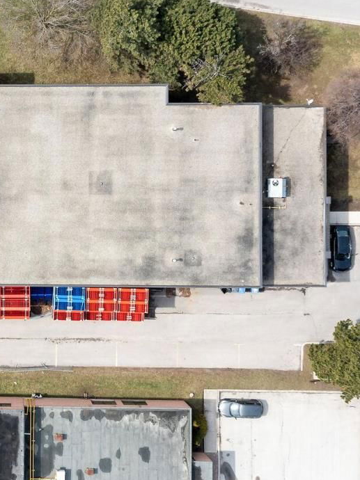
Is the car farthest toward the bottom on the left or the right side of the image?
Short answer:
right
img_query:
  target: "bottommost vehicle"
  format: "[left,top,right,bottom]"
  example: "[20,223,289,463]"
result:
[218,397,263,420]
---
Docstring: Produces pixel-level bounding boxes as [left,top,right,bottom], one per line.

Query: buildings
[24,398,191,480]
[0,85,262,286]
